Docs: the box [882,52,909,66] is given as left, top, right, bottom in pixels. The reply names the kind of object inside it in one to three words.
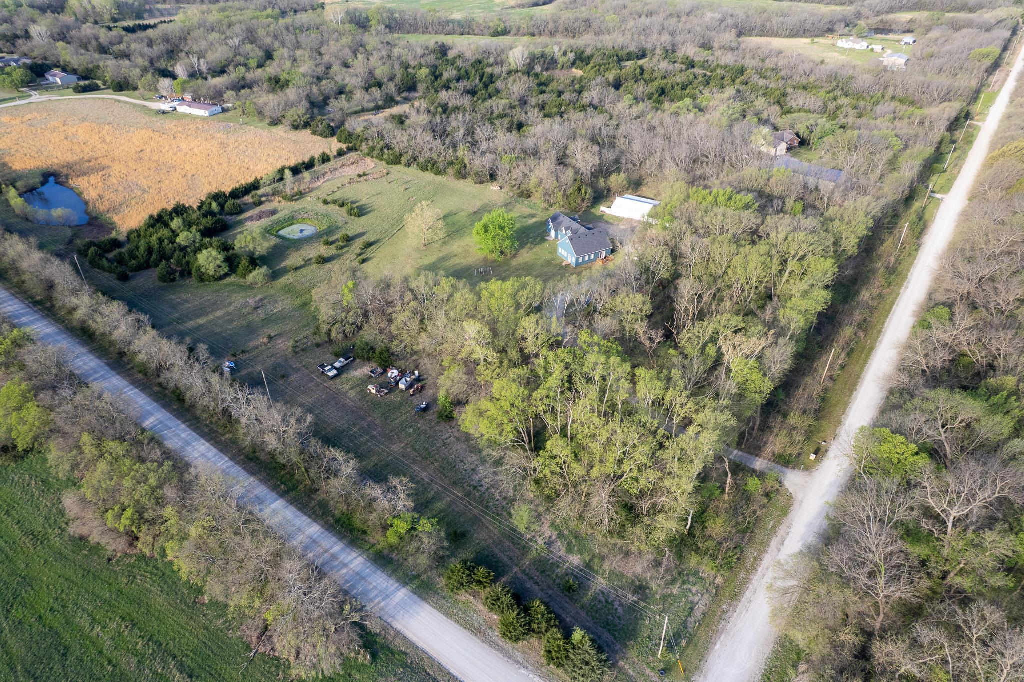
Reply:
barn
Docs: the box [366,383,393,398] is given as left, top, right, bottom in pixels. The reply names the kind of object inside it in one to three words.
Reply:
vehicle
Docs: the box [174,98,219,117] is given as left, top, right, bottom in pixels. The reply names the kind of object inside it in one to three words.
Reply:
house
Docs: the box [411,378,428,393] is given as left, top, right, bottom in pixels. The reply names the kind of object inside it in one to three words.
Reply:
work vehicle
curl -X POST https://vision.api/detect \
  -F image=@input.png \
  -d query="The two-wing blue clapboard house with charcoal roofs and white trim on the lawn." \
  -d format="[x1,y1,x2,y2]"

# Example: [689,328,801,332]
[542,207,615,267]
